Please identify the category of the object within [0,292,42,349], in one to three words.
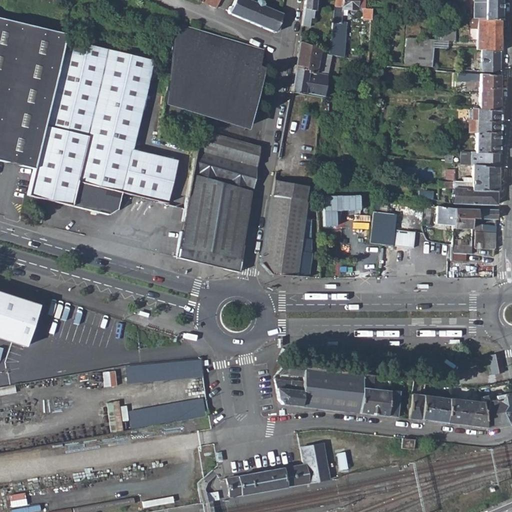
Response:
building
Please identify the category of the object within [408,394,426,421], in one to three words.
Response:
house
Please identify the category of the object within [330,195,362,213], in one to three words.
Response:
shed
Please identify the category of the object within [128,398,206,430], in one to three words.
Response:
shed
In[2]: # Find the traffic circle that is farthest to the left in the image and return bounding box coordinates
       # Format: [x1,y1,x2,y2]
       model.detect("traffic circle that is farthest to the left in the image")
[216,292,261,338]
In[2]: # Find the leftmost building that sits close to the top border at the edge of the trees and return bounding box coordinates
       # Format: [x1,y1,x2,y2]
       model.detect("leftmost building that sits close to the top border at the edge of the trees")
[0,16,68,170]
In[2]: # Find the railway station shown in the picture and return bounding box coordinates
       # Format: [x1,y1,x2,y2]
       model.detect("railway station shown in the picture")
[226,468,290,498]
